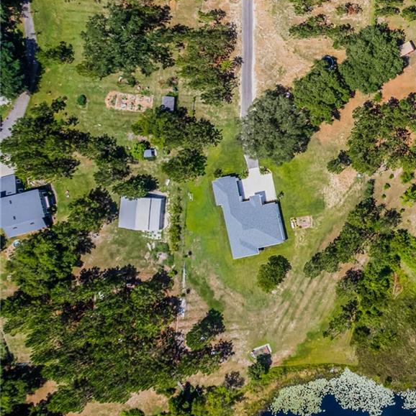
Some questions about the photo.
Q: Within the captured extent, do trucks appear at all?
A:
No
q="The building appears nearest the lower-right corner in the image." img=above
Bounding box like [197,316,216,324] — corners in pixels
[212,175,287,259]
